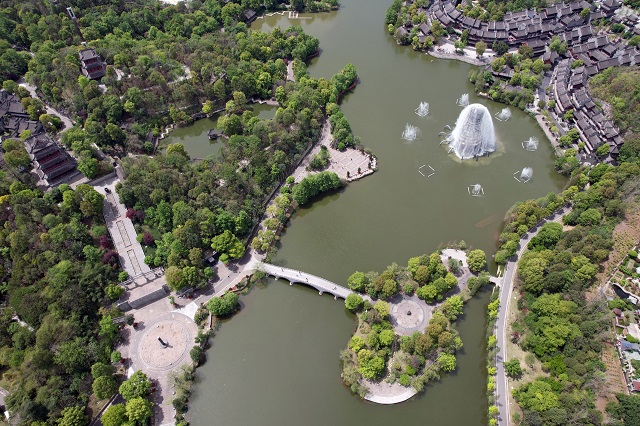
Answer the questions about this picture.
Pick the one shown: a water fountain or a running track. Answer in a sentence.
The image shows a water fountain.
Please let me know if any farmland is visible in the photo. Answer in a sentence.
No, farmland can't be seen anywhere here.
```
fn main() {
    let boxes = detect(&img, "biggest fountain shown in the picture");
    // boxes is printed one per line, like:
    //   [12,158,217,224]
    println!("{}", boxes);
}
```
[440,102,512,169]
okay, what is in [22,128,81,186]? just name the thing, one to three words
building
